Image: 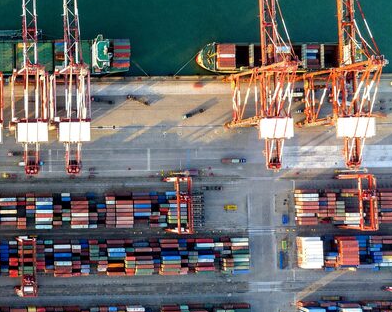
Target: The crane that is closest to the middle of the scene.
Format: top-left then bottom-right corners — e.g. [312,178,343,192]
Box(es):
[160,178,194,234]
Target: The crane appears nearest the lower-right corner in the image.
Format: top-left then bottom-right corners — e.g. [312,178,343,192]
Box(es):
[333,175,379,232]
